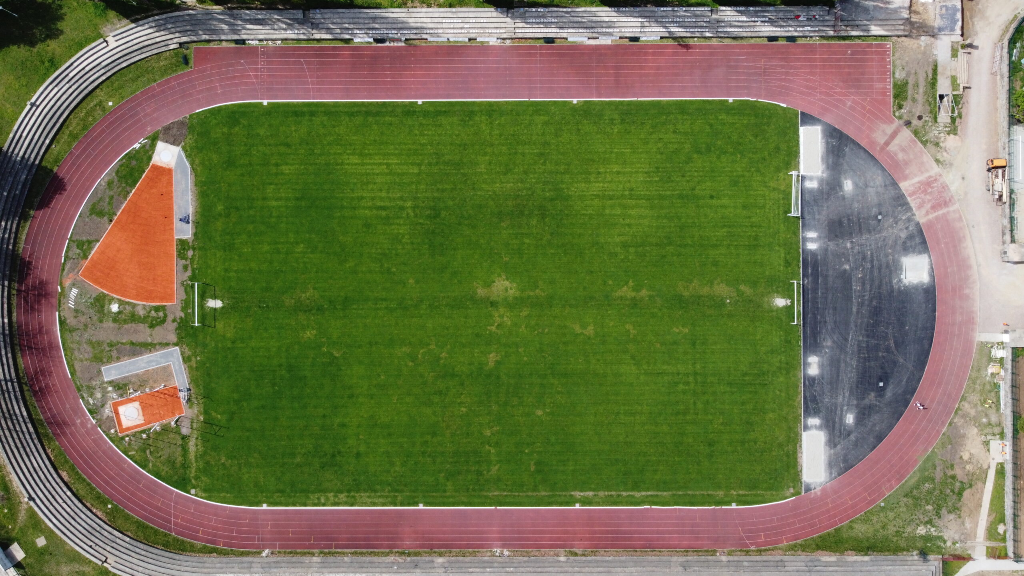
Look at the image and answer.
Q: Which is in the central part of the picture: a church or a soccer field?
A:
soccer field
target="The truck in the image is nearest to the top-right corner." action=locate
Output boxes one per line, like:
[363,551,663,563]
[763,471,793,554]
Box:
[983,160,1008,209]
